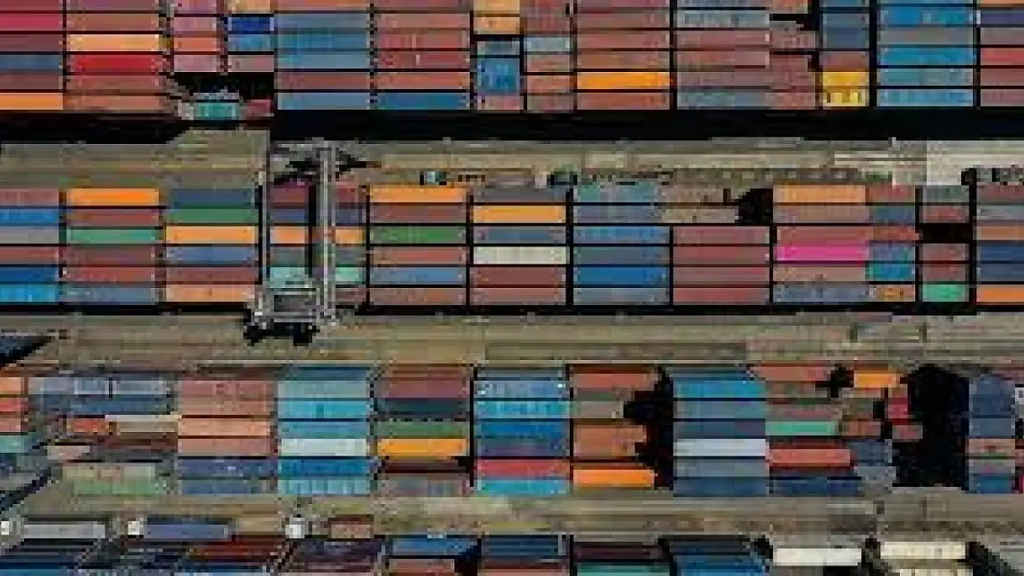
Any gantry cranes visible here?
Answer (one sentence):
Yes, the picture does show a gantry crane.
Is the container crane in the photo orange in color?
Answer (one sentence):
No, the container crane is actually gray.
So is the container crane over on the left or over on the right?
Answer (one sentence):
The container crane sits on the left side.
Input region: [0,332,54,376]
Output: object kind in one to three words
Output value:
shipping container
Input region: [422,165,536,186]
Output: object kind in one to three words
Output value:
truck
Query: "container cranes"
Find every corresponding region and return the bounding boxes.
[249,137,373,331]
